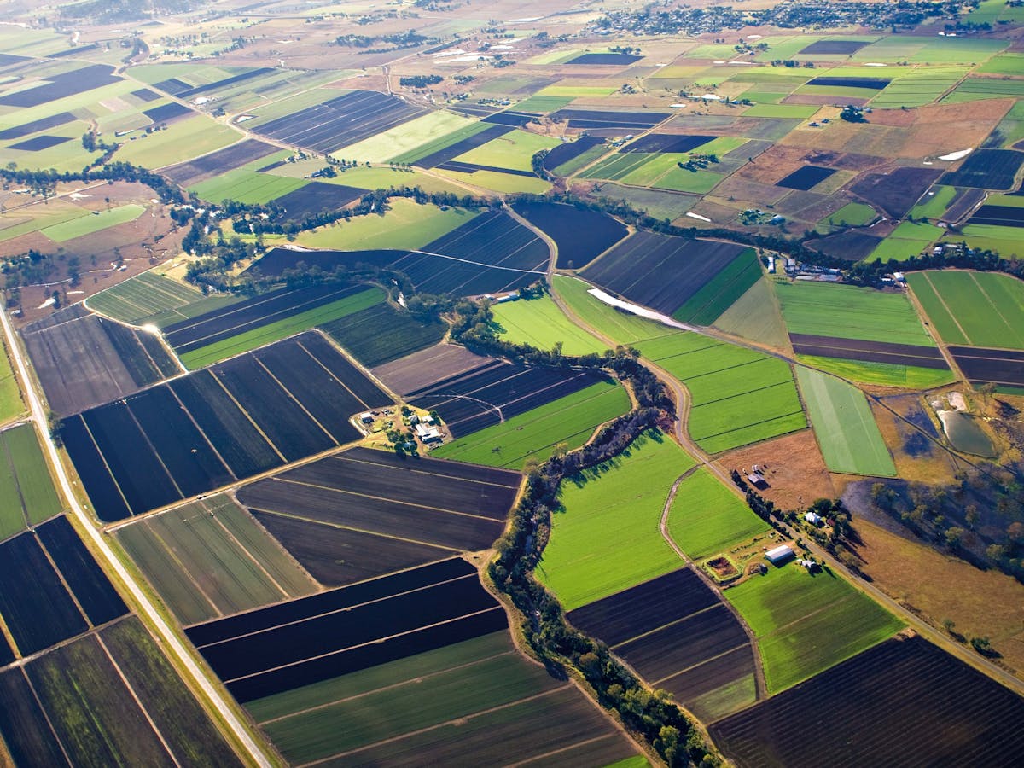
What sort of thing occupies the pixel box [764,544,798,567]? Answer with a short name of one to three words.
shed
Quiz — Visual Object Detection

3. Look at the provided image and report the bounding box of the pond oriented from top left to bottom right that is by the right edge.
[937,410,996,456]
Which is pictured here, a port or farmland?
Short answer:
farmland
